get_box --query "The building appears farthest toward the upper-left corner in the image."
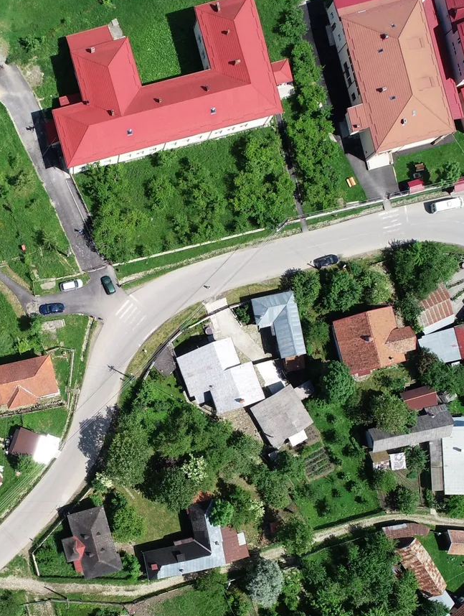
[45,0,294,175]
